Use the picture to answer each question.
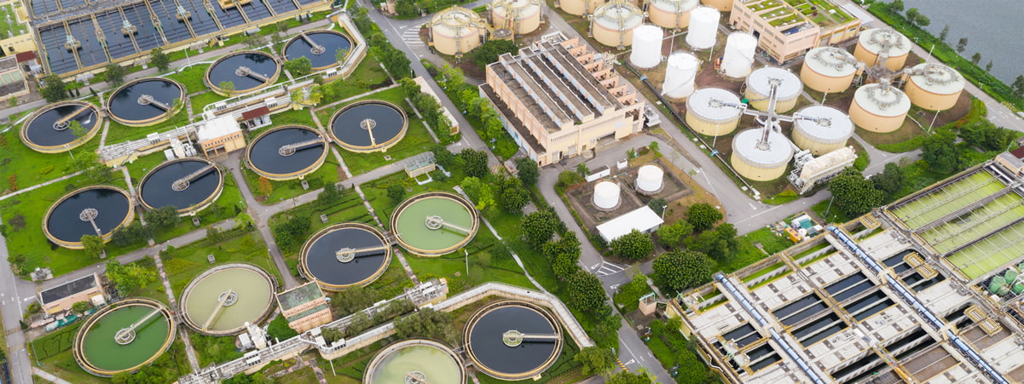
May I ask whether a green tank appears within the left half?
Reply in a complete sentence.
Yes, looking within the left half, one can make out a green tank.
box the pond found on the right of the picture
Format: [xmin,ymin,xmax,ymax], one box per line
[881,155,1024,285]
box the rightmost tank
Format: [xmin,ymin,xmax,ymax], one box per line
[899,62,965,111]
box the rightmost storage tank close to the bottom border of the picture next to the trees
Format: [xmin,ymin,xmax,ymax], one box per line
[462,297,564,381]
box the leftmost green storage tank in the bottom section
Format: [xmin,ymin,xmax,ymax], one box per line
[73,296,178,378]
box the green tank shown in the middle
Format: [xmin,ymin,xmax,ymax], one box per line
[390,189,479,256]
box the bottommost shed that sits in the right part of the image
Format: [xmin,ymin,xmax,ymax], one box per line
[639,292,658,315]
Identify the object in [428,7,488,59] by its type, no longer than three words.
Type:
storage tank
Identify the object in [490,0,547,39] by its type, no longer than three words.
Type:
storage tank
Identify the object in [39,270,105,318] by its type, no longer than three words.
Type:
building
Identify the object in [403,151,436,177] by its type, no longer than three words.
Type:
shed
